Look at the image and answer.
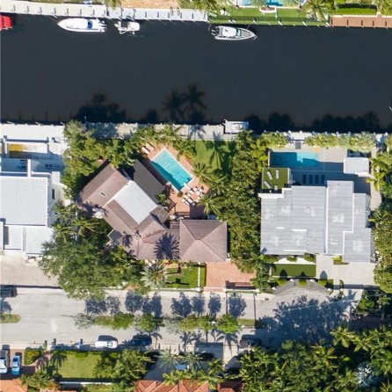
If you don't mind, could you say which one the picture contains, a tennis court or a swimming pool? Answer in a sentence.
This aerial view contains a swimming pool.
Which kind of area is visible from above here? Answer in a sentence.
The area seen from above is a residential area.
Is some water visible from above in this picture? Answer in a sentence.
Yes, the picture does contain water.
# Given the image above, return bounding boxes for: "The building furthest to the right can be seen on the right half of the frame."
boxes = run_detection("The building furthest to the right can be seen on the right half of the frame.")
[257,156,380,264]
